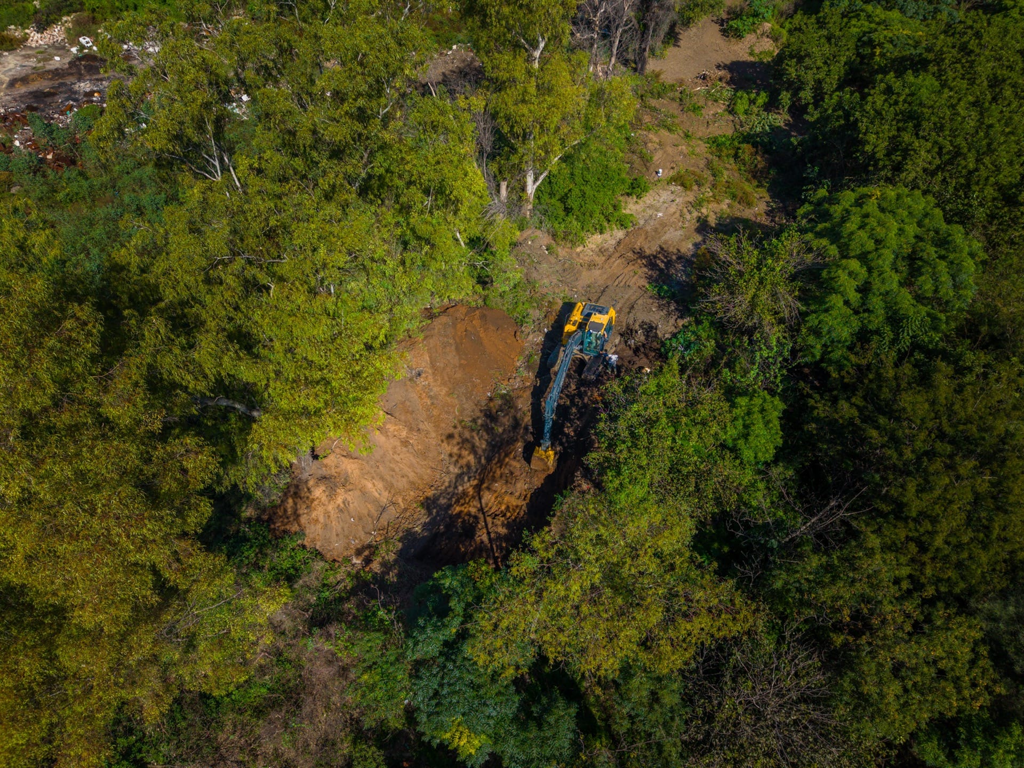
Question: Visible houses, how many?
zero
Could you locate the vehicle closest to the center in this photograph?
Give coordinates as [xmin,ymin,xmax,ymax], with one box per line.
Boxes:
[535,301,613,465]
